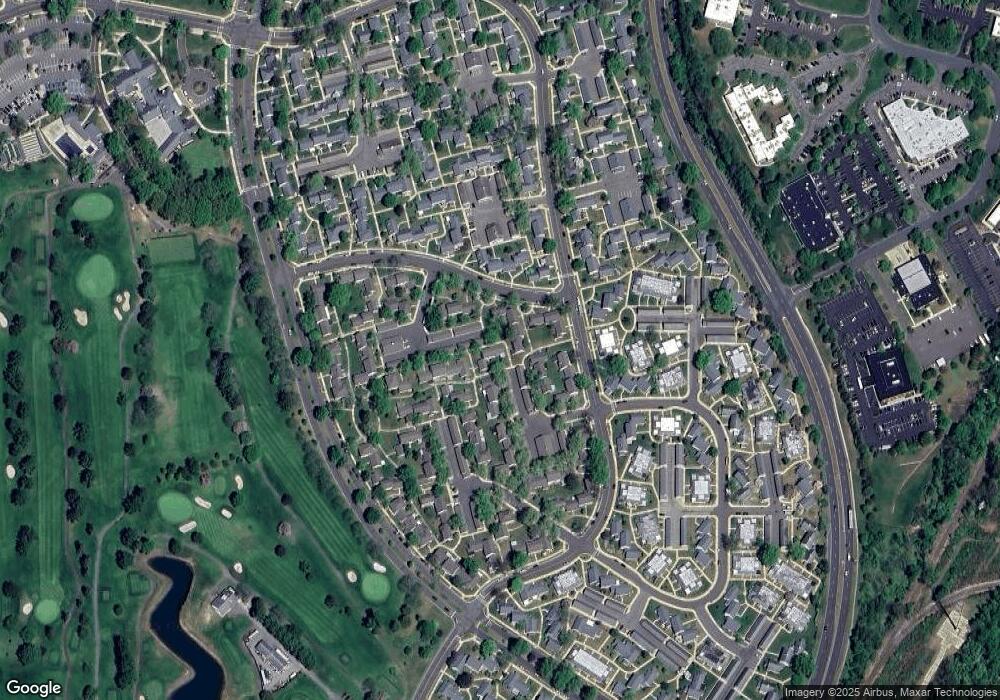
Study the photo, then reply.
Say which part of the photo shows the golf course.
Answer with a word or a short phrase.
left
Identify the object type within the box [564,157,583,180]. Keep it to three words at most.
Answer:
house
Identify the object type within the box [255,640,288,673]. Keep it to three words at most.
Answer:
barn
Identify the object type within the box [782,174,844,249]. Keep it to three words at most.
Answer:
building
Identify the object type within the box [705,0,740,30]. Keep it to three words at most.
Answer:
building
